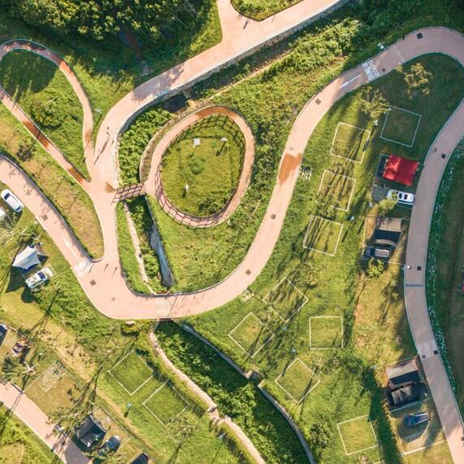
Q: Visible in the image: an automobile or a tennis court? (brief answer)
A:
automobile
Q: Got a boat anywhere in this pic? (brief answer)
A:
No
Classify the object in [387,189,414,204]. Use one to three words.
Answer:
car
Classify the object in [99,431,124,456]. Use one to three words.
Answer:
car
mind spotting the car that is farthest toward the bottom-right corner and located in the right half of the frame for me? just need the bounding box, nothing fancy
[402,411,431,427]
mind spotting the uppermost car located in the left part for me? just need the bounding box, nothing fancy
[2,188,26,215]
